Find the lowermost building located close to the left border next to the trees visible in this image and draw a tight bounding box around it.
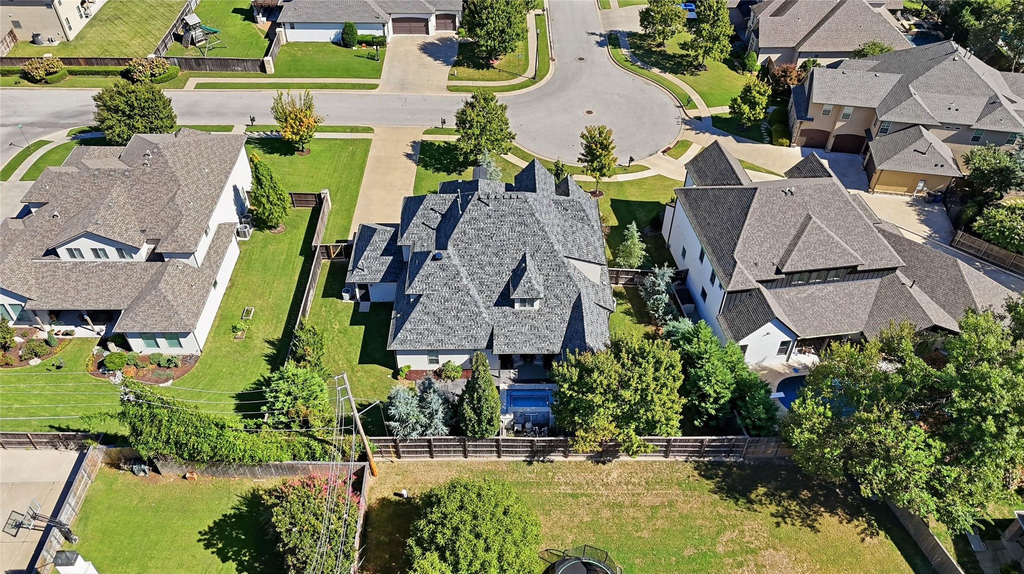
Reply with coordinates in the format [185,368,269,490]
[0,116,254,354]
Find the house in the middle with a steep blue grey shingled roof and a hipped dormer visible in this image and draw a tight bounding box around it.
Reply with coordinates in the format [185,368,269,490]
[345,158,614,406]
